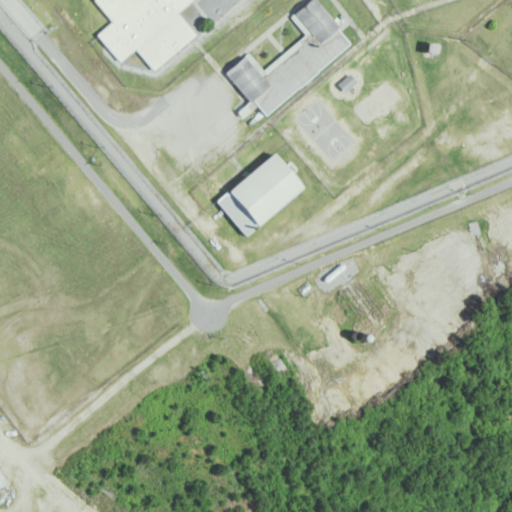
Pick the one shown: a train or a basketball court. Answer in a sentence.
It is a basketball court that can be seen here.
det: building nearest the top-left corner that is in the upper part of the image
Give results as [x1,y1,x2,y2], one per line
[94,0,197,69]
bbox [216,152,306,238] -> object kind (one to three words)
building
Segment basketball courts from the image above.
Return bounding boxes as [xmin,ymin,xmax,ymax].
[296,100,354,160]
